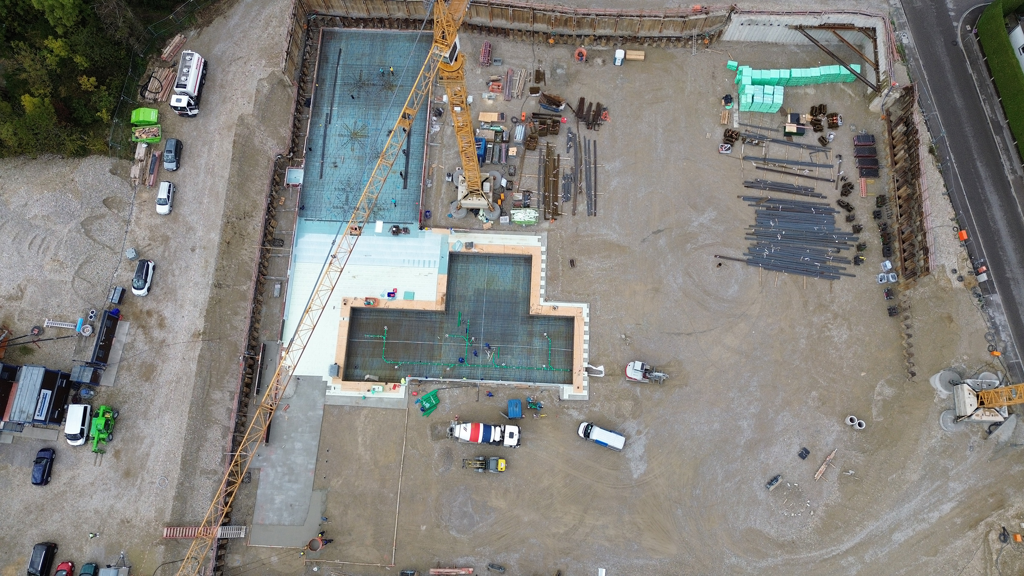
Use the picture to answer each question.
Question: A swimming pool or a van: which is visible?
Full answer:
This aerial view contains a van.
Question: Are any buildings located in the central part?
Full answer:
No, in the central part there is no building.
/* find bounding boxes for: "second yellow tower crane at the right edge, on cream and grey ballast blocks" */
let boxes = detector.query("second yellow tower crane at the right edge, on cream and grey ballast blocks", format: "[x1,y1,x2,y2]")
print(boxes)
[952,379,1024,423]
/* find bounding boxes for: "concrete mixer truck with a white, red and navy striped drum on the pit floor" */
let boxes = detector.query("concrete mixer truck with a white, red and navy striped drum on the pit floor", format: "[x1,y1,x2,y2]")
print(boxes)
[445,423,528,451]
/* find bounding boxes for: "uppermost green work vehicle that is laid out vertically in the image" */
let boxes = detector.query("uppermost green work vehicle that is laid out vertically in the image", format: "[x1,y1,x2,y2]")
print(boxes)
[85,404,118,464]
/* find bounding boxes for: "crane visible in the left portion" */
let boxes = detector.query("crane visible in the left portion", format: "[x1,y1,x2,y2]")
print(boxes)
[174,0,494,576]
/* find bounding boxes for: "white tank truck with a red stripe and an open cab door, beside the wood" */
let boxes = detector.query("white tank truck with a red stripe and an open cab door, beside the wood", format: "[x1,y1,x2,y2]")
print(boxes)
[162,40,203,115]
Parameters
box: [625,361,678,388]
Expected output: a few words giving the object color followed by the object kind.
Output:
white work vehicle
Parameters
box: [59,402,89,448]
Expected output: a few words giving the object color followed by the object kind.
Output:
white van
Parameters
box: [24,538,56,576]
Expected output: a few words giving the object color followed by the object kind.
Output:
black van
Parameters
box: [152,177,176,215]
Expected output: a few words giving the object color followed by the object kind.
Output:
white car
